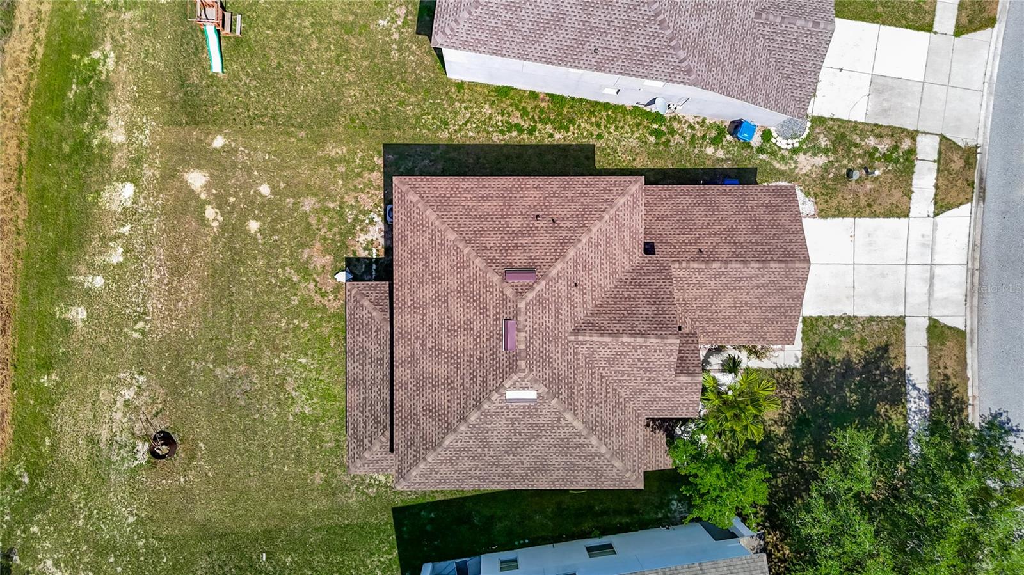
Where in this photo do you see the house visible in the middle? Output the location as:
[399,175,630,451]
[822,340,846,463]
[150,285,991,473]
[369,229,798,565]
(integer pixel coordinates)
[346,176,809,490]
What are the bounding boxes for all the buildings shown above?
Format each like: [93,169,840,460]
[419,516,772,575]
[346,176,809,490]
[432,0,840,127]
